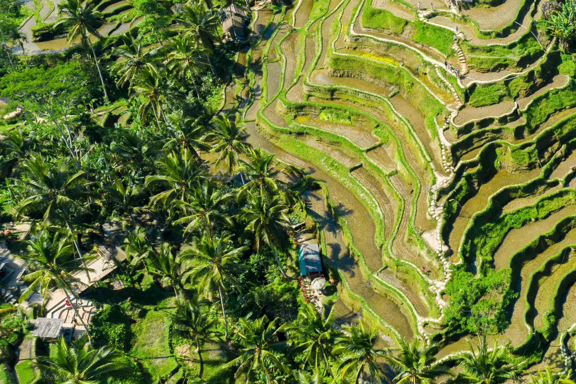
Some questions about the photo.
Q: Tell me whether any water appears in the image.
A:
Yes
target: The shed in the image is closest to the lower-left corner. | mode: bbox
[22,316,68,346]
